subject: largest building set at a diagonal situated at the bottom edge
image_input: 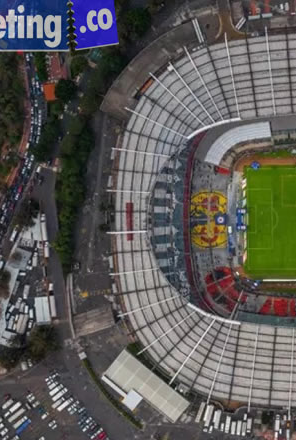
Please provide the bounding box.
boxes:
[102,346,193,423]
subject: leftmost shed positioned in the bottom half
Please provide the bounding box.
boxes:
[34,296,55,324]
